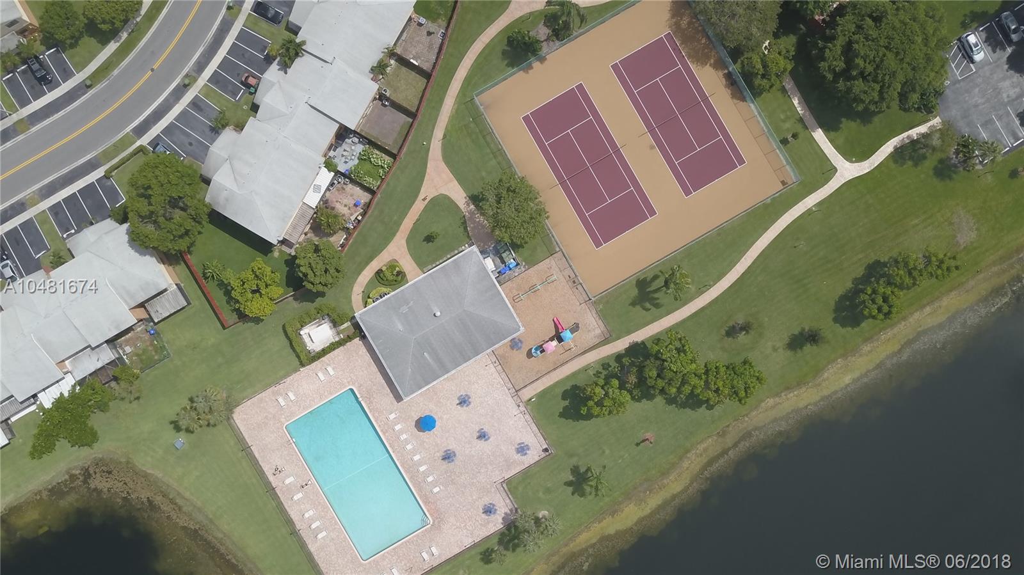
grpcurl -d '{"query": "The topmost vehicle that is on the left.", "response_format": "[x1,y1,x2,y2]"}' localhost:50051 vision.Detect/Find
[250,0,283,24]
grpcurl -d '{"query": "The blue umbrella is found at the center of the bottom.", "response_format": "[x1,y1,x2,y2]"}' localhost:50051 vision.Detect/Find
[419,414,437,431]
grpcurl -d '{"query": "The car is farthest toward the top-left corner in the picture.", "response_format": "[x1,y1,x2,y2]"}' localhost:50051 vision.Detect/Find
[25,55,53,86]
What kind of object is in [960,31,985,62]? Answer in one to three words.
car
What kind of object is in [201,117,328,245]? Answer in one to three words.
house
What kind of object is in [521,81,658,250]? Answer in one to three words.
tennis court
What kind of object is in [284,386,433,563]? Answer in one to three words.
swimming pool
